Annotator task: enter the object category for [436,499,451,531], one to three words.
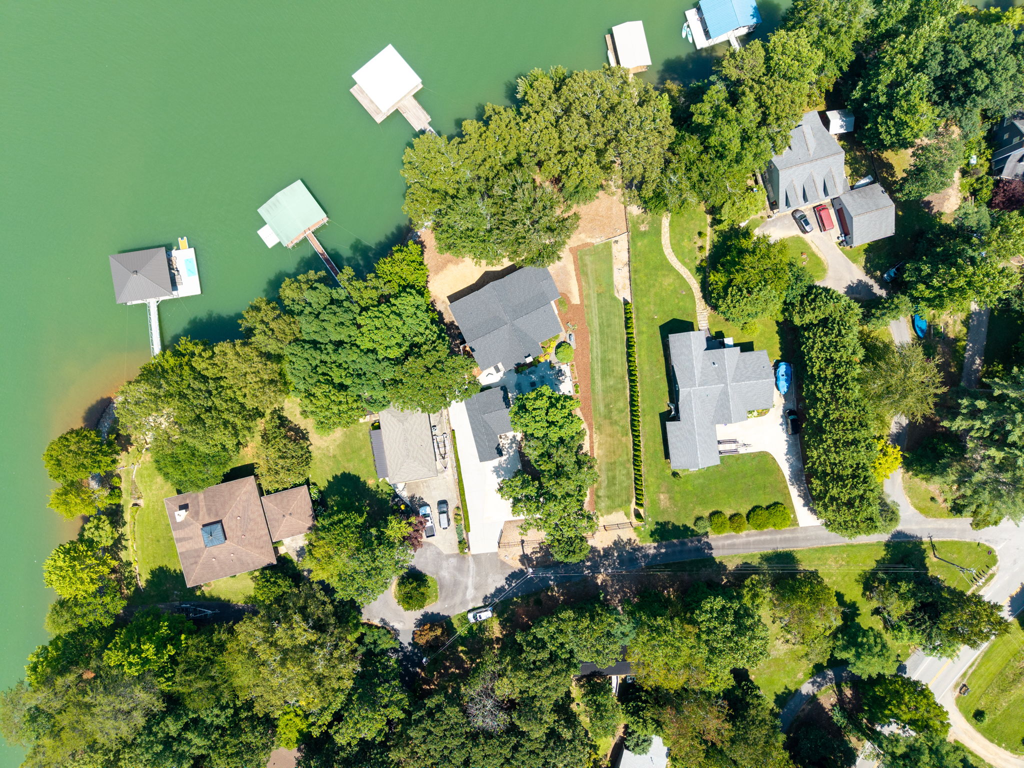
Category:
car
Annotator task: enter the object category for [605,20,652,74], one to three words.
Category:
building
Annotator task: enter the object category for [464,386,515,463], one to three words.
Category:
building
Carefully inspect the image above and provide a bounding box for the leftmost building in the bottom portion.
[164,475,279,588]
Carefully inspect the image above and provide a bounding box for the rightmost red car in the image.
[814,203,835,233]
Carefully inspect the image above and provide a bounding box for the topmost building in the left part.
[349,44,423,124]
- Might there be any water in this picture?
Yes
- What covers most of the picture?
trees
